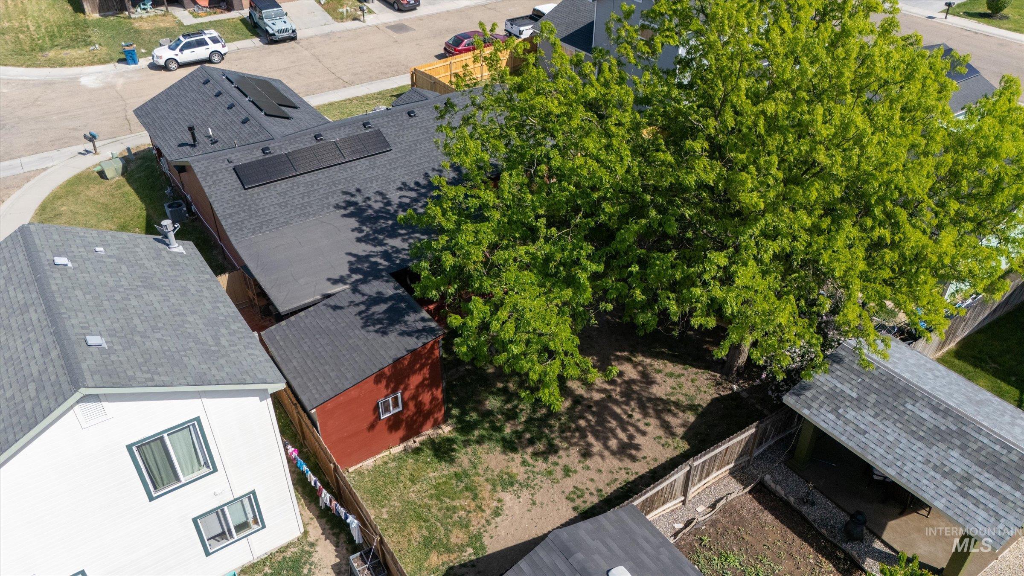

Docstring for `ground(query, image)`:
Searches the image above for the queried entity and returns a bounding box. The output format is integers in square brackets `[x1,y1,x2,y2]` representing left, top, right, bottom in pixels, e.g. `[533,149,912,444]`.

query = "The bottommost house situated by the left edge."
[0,209,302,576]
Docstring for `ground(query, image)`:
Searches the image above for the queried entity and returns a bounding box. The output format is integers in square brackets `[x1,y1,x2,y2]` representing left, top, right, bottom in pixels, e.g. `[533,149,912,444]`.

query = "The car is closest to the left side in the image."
[149,29,230,71]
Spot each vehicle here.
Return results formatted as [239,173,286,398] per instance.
[509,1,562,38]
[436,25,505,56]
[379,0,422,10]
[149,29,230,71]
[249,1,293,40]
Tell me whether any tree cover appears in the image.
Yes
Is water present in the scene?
No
